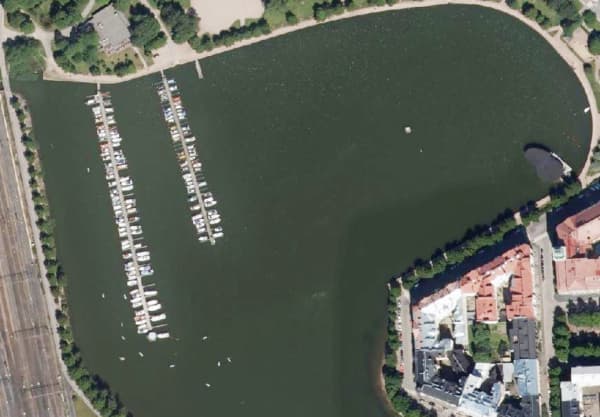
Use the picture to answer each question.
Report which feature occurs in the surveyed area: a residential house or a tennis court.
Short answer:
residential house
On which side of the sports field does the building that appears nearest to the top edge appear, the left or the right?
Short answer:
to the left of it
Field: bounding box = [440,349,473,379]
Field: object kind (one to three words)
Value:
house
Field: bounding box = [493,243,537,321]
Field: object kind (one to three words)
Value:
house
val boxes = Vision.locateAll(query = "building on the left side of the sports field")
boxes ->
[93,5,132,50]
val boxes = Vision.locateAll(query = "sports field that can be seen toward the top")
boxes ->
[190,0,262,33]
